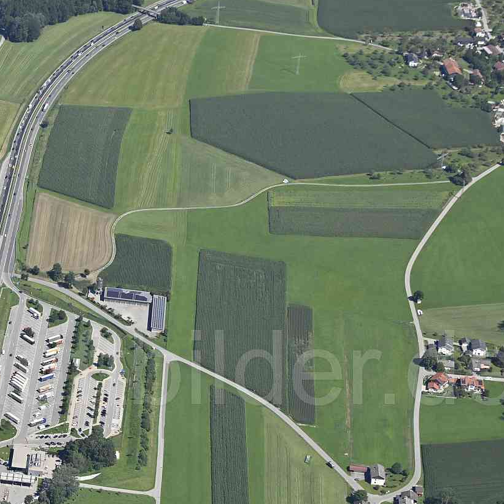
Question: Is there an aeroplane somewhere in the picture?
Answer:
No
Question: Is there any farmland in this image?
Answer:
Yes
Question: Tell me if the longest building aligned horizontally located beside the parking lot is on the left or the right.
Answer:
left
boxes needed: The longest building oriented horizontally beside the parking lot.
[104,287,152,307]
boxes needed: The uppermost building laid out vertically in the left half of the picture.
[152,296,167,337]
